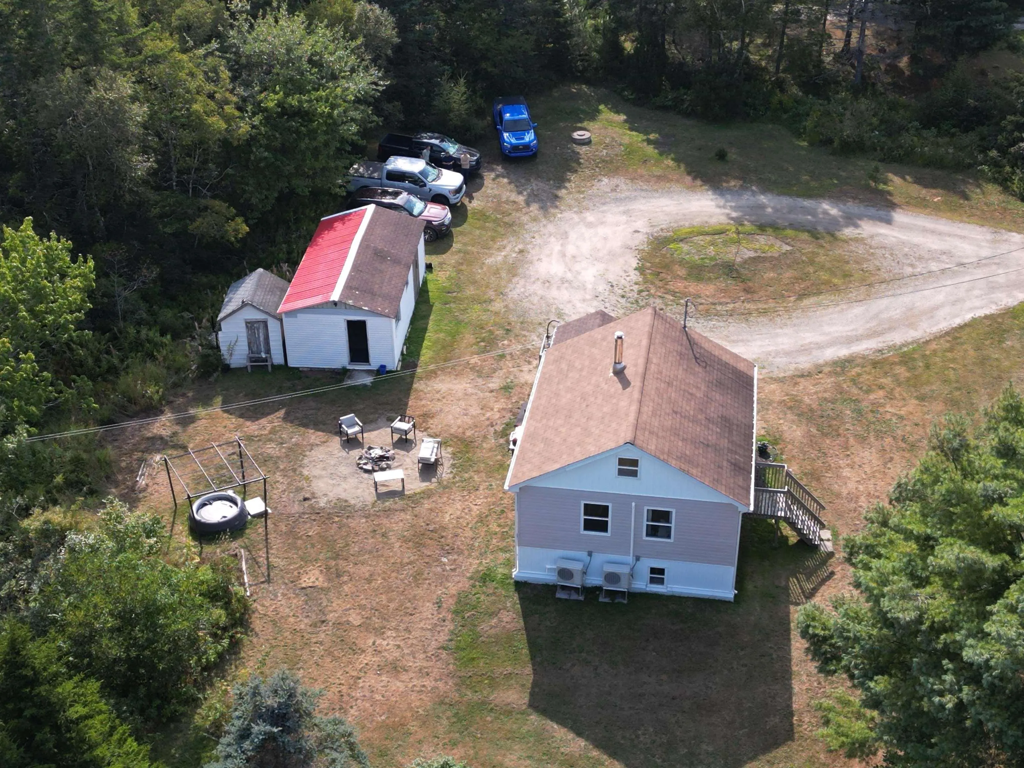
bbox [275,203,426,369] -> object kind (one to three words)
building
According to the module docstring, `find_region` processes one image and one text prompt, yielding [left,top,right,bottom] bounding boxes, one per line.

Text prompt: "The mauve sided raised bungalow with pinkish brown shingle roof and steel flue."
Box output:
[502,296,760,602]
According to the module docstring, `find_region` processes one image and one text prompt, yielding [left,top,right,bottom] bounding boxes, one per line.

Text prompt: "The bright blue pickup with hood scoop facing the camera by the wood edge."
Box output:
[497,105,538,162]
